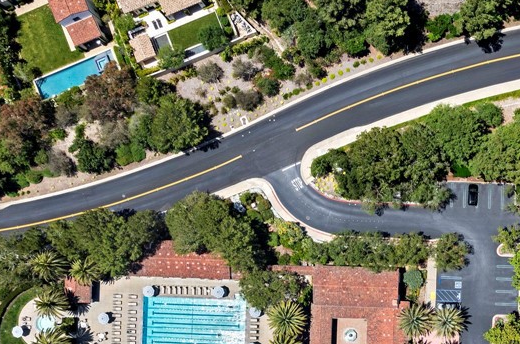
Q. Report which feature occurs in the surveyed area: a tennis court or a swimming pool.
swimming pool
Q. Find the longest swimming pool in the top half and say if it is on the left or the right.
left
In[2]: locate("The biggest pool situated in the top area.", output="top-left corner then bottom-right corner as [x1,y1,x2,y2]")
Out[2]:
[32,47,118,104]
